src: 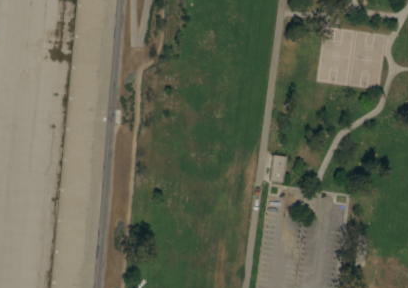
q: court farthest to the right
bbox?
[349,30,386,88]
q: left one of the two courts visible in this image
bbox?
[317,27,354,85]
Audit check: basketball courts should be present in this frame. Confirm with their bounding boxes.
[349,30,386,88]
[317,27,354,85]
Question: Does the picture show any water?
Yes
